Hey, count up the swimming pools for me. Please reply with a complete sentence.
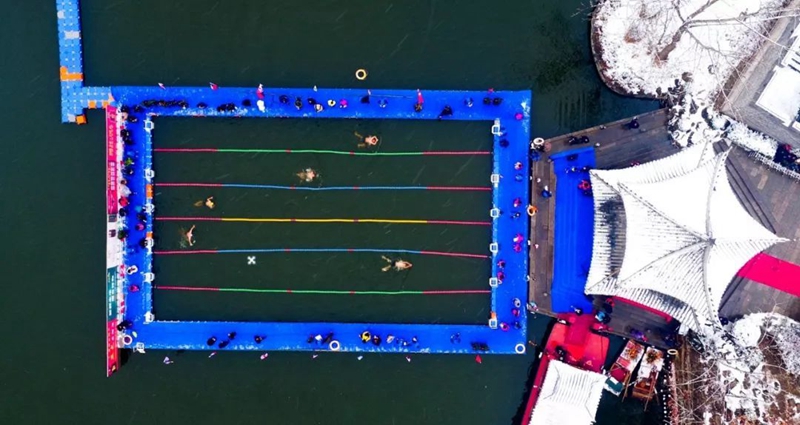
In total, there is 1 swimming pool in the scene.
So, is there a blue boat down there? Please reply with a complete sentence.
No, the scene contains no blue boat.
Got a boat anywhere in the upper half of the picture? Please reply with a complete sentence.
No, no boat is visible in the upper half of the picture.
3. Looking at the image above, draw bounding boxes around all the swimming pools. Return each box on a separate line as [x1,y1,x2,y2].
[112,87,531,353]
